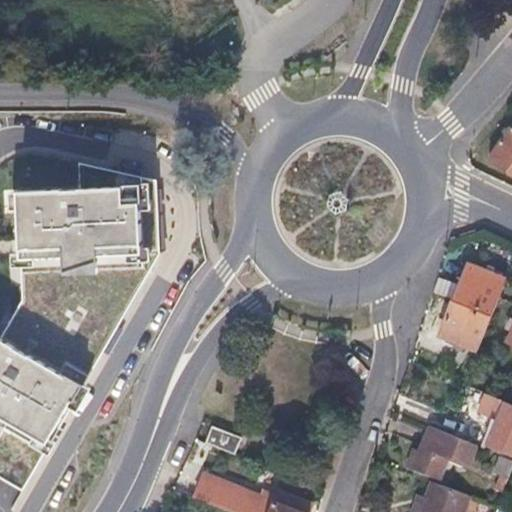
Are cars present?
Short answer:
Yes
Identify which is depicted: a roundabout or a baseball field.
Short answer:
roundabout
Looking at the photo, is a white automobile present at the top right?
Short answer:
No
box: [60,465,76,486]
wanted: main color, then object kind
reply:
white car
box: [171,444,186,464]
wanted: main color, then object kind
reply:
white car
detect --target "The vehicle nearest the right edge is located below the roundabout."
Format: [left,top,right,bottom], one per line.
[443,415,464,430]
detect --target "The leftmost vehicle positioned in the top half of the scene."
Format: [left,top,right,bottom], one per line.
[35,120,56,132]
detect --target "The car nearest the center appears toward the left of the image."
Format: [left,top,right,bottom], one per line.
[179,260,195,281]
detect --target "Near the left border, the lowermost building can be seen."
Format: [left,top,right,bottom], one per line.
[0,340,95,454]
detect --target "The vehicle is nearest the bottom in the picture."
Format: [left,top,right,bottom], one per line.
[49,487,65,507]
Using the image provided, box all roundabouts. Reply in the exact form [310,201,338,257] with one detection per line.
[222,74,456,317]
